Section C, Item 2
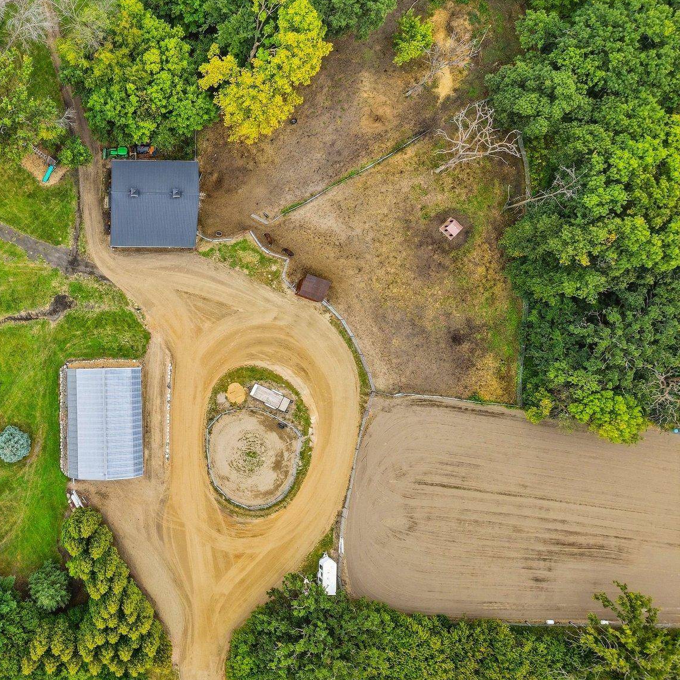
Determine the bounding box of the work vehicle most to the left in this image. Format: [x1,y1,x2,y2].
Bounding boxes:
[102,147,127,160]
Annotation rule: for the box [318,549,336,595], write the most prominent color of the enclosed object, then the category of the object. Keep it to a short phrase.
white trailer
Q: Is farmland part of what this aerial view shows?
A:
Yes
